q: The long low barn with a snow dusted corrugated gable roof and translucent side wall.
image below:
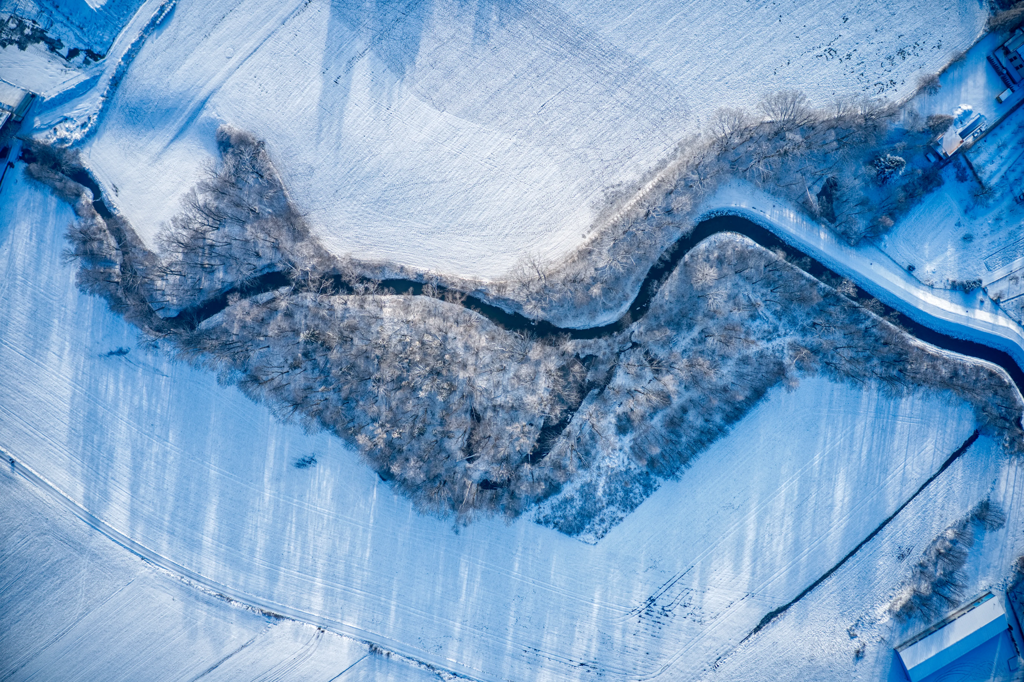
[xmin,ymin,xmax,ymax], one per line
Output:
[894,591,1015,682]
